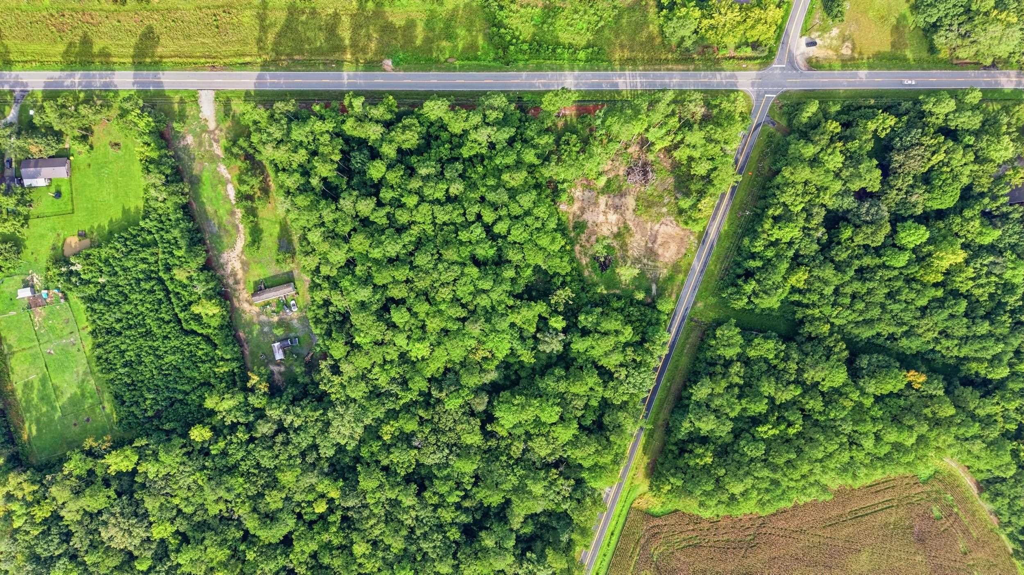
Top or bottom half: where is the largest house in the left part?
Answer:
top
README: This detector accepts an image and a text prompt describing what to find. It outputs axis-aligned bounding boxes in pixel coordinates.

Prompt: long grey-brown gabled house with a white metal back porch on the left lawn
[20,157,72,188]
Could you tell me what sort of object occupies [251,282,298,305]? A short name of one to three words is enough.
house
